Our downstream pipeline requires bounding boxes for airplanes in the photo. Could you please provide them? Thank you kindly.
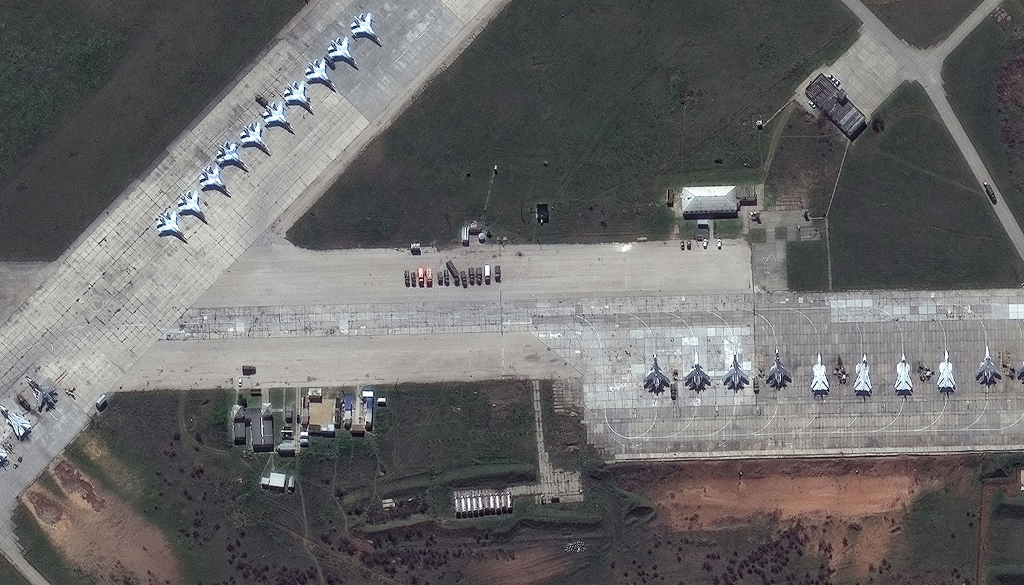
[216,139,249,171]
[854,357,873,393]
[684,354,711,391]
[974,349,1001,385]
[895,355,914,392]
[155,210,188,242]
[643,354,670,391]
[175,192,208,223]
[199,165,231,196]
[28,379,61,412]
[326,35,361,68]
[262,100,294,131]
[722,353,749,390]
[282,80,314,111]
[765,351,792,387]
[304,57,336,89]
[0,404,29,435]
[349,11,381,42]
[239,124,271,155]
[811,355,830,391]
[938,352,957,388]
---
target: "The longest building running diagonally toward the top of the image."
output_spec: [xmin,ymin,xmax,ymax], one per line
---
[804,74,866,136]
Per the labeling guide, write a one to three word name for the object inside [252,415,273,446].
building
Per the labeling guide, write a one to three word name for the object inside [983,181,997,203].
vehicle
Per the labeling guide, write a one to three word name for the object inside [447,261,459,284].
vehicle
